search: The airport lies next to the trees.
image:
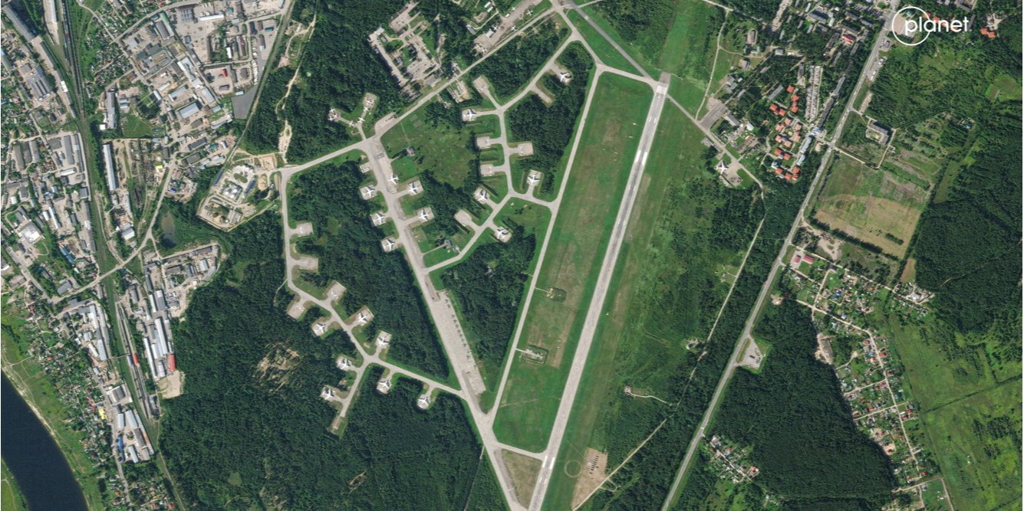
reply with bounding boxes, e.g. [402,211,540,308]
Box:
[271,0,744,511]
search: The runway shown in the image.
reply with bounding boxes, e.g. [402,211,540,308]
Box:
[528,82,670,511]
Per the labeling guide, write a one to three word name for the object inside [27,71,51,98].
building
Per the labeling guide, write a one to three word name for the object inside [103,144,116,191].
building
